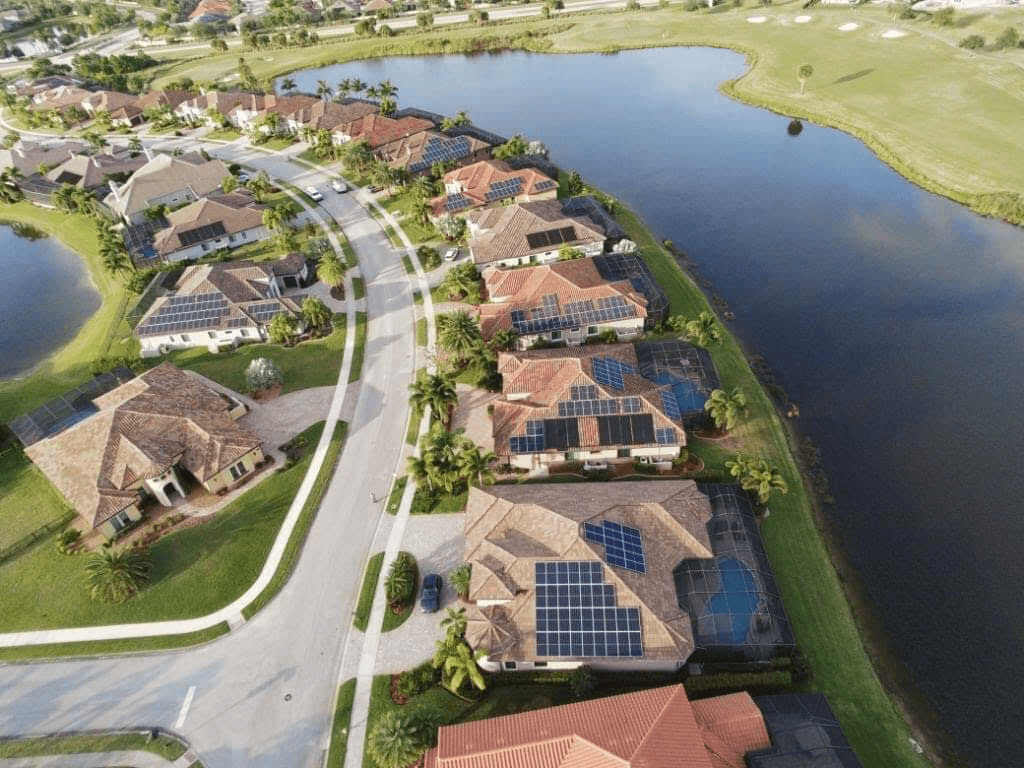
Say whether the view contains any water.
Yes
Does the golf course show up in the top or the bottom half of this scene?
top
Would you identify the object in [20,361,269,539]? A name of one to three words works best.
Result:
house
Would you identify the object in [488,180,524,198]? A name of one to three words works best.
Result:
solar array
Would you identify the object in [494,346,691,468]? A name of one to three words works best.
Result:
house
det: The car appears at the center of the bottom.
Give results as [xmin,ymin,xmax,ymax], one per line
[418,568,442,611]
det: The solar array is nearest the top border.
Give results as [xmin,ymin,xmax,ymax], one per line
[420,134,467,167]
